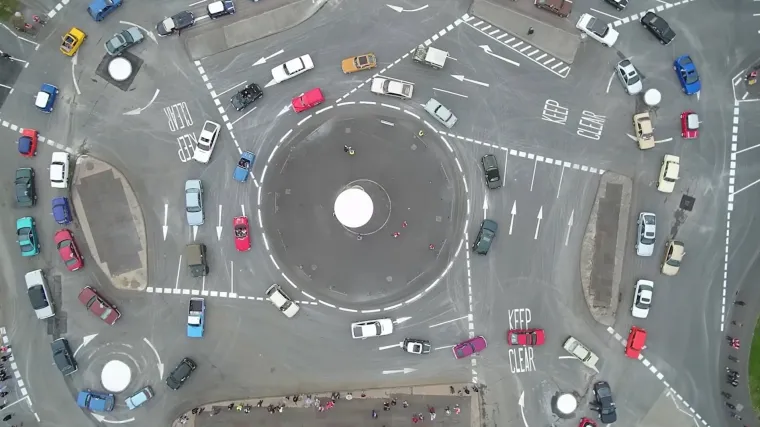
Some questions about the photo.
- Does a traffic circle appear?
Yes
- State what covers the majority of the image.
paved ground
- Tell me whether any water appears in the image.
No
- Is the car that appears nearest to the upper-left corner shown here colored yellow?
Yes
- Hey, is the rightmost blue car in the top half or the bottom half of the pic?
top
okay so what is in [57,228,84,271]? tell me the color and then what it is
red car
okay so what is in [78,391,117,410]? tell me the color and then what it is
blue car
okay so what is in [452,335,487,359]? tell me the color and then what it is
pink car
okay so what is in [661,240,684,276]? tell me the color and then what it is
white car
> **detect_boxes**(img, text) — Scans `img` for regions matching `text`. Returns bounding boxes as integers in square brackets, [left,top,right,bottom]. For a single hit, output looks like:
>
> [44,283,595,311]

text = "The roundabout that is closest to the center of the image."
[258,101,469,313]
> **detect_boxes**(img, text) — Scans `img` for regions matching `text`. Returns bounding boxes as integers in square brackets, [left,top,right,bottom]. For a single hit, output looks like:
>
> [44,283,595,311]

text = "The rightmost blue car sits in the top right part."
[675,55,701,94]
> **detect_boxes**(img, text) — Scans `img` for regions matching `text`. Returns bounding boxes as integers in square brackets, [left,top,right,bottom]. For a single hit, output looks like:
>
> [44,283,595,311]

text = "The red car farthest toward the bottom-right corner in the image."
[623,326,648,359]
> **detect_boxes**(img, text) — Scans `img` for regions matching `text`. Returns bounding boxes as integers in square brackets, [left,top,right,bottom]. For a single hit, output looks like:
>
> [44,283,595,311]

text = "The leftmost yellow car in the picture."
[62,29,86,56]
